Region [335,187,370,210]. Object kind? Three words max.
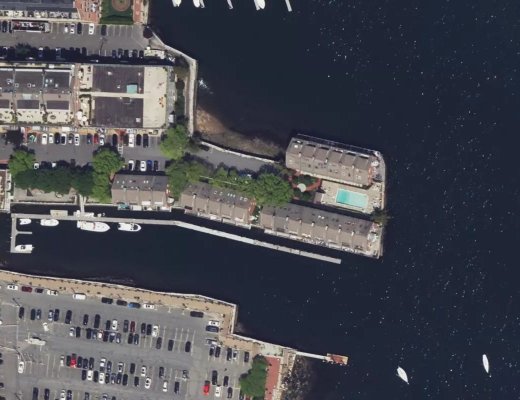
swimming pool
